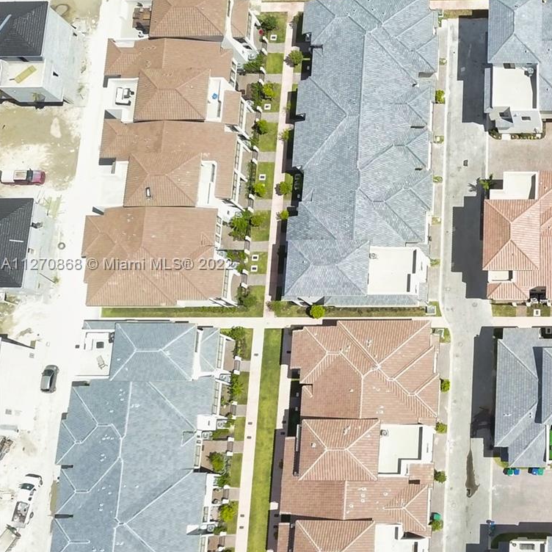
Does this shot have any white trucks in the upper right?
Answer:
No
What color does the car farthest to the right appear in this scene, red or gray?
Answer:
gray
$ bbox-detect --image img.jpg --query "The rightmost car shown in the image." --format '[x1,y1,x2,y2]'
[39,363,63,397]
